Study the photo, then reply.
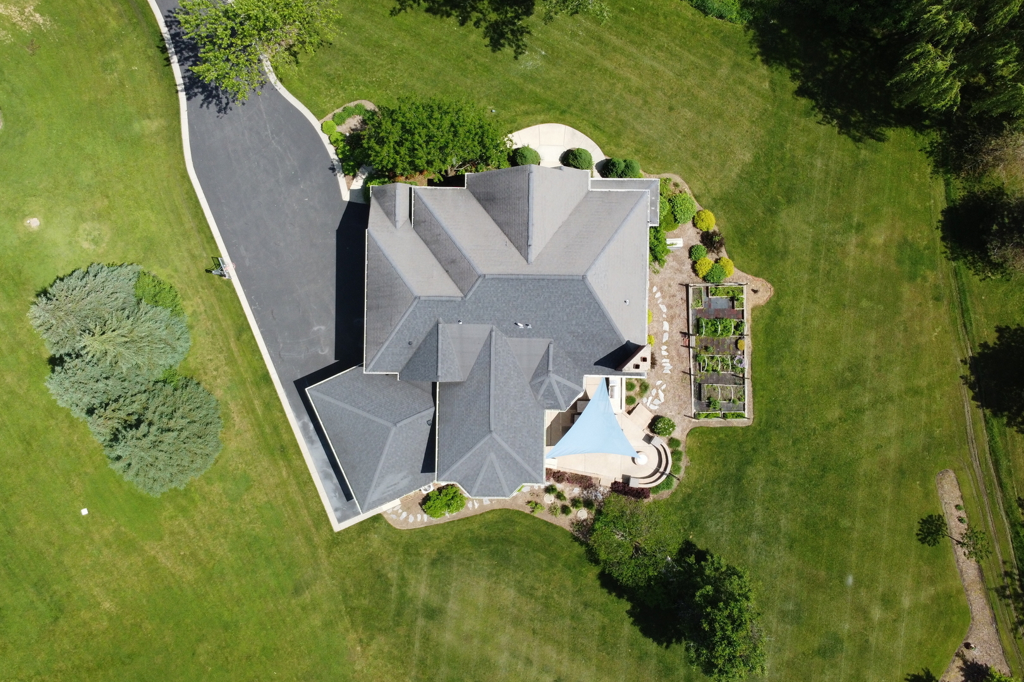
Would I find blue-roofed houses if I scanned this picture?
No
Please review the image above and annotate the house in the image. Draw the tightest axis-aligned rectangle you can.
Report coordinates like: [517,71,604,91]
[304,163,662,515]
